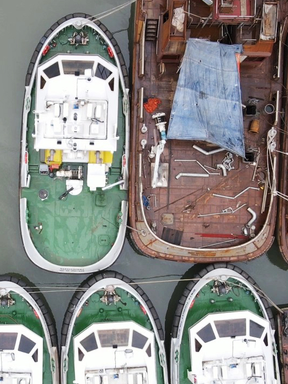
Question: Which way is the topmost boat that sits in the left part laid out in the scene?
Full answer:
I'd say the topmost boat that sits in the left part is aligned up and down in the picture.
